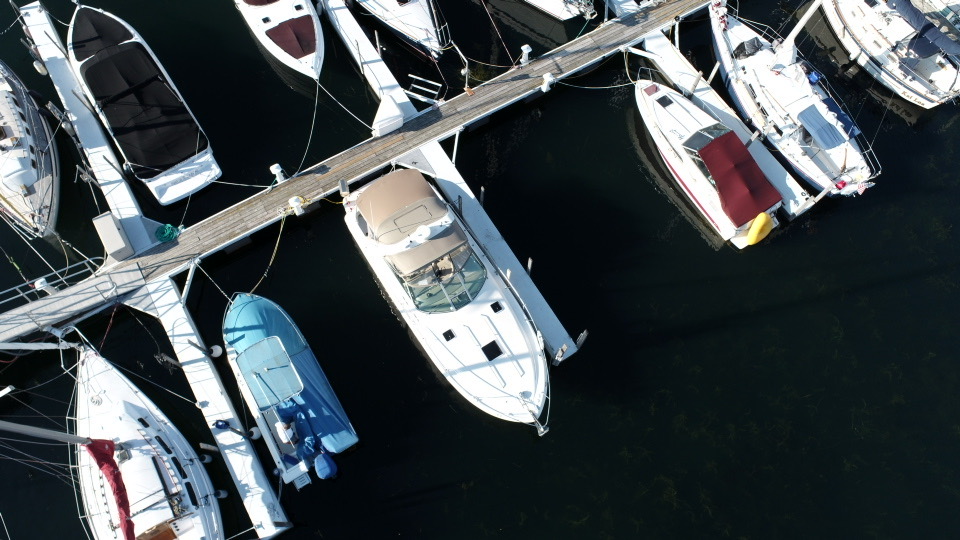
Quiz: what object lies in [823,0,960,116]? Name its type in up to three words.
boat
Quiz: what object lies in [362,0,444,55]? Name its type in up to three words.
boat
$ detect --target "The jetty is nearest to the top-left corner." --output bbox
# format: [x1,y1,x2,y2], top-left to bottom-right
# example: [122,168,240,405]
[20,1,153,258]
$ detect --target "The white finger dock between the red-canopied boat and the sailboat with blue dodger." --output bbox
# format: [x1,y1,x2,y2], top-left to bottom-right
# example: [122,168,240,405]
[640,32,818,219]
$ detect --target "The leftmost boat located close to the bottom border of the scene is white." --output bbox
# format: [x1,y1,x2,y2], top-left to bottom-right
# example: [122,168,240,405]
[0,329,237,540]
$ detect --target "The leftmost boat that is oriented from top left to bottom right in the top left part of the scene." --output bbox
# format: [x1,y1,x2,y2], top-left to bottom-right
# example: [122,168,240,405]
[68,0,224,214]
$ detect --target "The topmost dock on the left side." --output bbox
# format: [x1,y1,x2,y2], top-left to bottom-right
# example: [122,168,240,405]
[322,0,418,121]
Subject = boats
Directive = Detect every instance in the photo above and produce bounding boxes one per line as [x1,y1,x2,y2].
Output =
[823,0,960,116]
[340,157,552,437]
[711,0,908,208]
[639,64,792,251]
[68,0,224,214]
[0,57,68,240]
[0,329,237,540]
[231,0,323,81]
[224,286,358,490]
[524,0,593,34]
[362,0,444,55]
[906,0,960,56]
